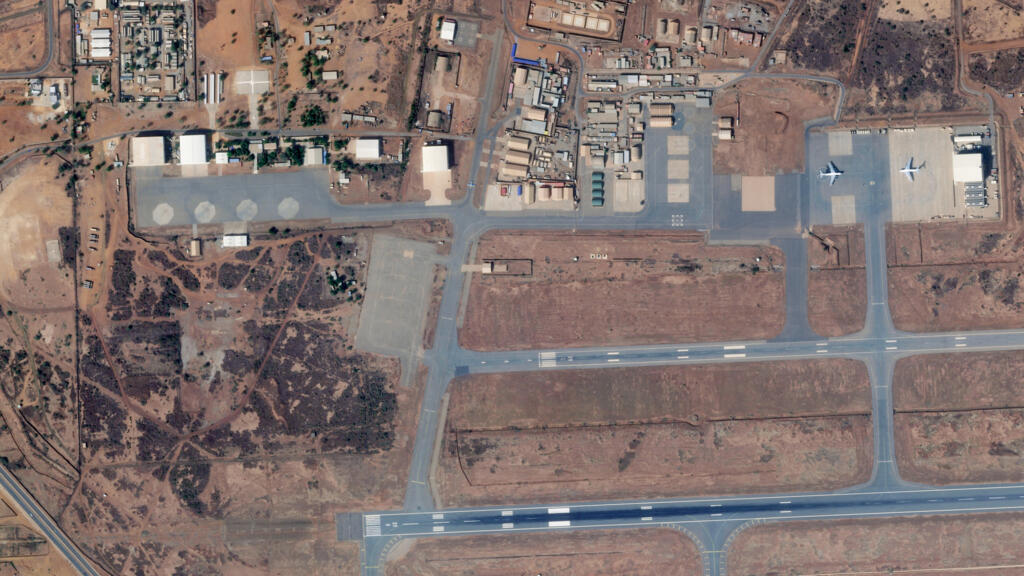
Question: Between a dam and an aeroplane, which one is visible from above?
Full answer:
Visible in the photo is an aeroplane.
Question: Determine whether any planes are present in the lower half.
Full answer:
No, no plane is visible in the lower half.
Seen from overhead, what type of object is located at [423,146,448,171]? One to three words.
hangar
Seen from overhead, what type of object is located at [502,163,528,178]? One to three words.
building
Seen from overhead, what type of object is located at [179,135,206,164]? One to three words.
hangar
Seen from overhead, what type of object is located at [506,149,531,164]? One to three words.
building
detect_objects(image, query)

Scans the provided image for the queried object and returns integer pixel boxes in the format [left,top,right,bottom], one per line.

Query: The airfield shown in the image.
[135,102,1024,576]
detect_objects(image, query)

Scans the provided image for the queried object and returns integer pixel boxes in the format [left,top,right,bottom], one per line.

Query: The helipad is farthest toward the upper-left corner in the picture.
[153,203,174,224]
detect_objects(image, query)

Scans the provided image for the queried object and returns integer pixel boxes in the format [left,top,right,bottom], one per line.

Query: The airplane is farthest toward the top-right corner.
[899,158,922,182]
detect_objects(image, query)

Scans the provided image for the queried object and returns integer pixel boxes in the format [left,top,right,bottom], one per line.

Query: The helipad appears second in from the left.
[195,201,215,222]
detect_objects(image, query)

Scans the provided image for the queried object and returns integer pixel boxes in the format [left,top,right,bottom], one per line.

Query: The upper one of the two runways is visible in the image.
[444,330,1024,378]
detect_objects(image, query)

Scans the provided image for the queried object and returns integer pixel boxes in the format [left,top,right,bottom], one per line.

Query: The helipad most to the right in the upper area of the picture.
[278,198,299,218]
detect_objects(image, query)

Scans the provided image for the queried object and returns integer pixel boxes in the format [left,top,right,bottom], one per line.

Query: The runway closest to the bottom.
[362,483,1024,538]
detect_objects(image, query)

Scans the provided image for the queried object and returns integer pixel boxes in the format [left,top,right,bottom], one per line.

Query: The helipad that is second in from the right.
[236,199,257,220]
